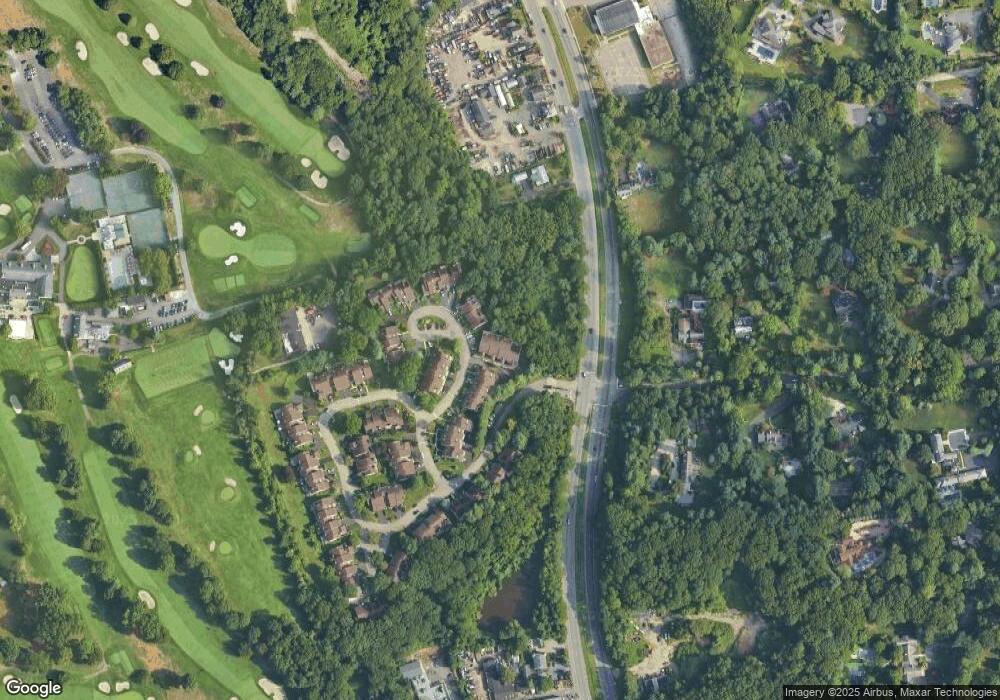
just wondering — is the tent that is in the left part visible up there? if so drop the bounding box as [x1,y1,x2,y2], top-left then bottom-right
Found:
[8,319,27,337]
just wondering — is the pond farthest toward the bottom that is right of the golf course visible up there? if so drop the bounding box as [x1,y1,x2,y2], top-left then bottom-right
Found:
[482,552,546,628]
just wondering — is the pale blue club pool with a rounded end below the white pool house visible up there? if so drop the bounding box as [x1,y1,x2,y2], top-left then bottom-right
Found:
[103,246,141,293]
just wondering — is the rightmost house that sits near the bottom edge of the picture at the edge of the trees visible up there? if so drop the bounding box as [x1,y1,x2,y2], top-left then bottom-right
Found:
[899,638,925,690]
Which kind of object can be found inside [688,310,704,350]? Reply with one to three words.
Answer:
building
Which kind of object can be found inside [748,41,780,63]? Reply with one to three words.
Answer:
swimming pool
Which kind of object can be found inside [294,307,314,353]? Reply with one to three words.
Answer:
barn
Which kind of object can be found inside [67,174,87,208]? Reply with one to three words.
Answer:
tennis court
